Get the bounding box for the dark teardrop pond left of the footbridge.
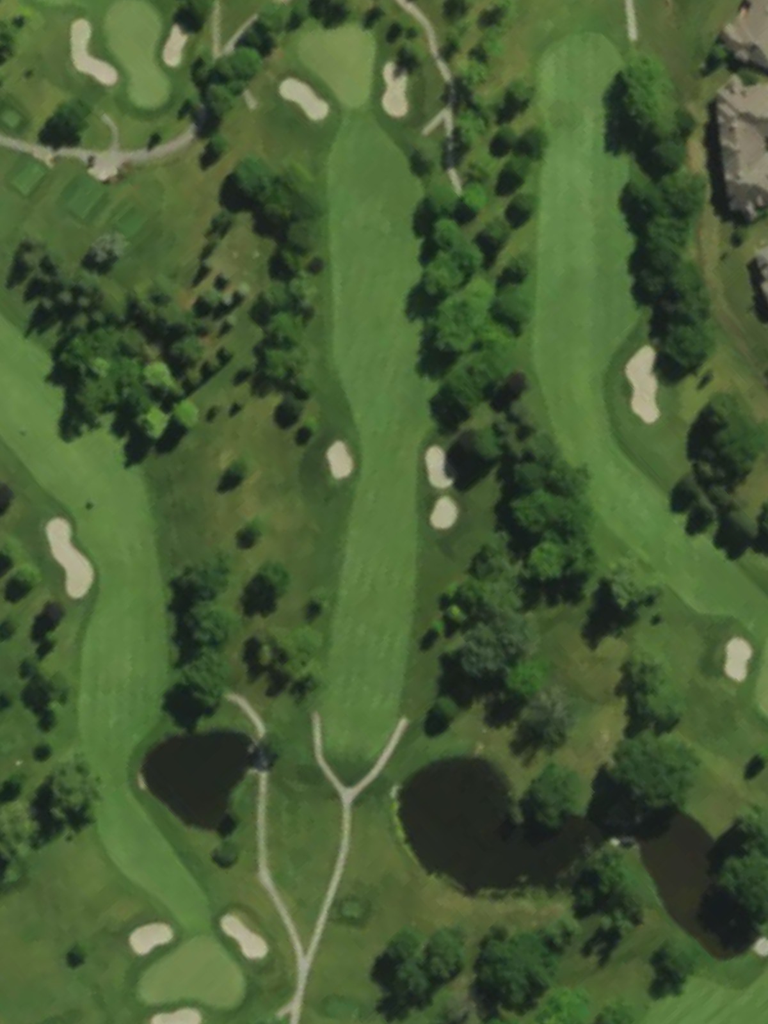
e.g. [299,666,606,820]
[142,729,279,831]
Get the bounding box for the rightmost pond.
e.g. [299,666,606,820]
[399,755,761,959]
